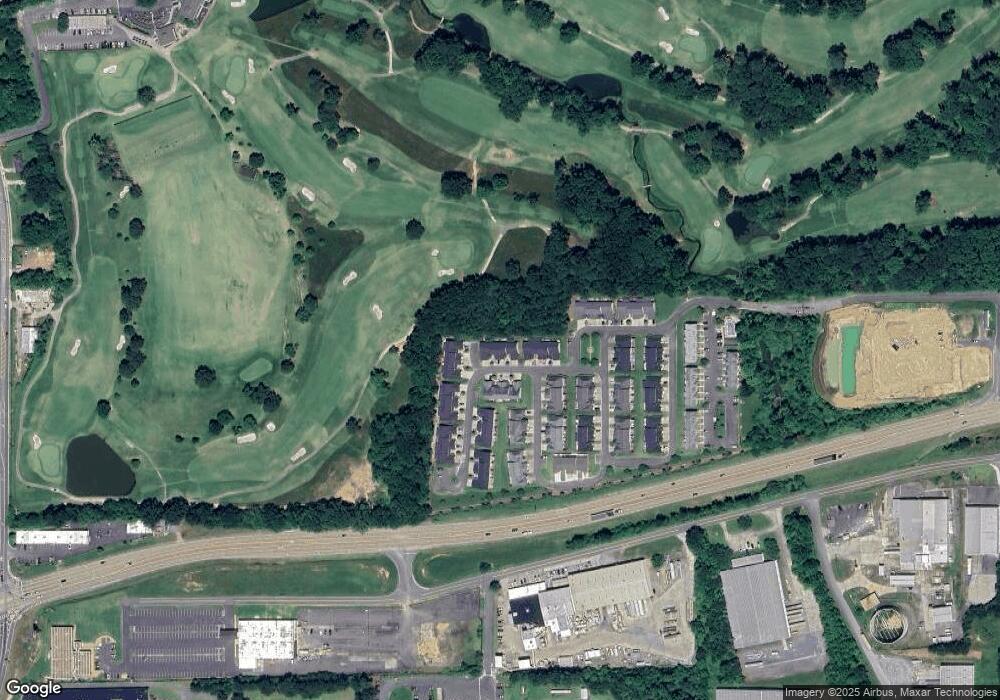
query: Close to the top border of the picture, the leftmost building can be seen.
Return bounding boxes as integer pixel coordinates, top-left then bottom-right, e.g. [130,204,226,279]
[68,16,106,29]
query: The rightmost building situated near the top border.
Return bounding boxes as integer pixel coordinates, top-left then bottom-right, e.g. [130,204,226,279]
[156,23,179,47]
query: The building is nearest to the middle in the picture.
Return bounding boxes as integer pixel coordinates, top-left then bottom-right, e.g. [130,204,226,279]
[479,341,519,362]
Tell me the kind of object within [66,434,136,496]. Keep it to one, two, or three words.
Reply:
pond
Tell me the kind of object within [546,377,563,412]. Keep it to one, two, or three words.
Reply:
house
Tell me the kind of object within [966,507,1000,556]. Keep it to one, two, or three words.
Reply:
building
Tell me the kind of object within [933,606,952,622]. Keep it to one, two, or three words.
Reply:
shed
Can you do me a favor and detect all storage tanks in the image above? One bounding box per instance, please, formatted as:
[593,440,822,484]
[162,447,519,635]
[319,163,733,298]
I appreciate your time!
[870,607,908,644]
